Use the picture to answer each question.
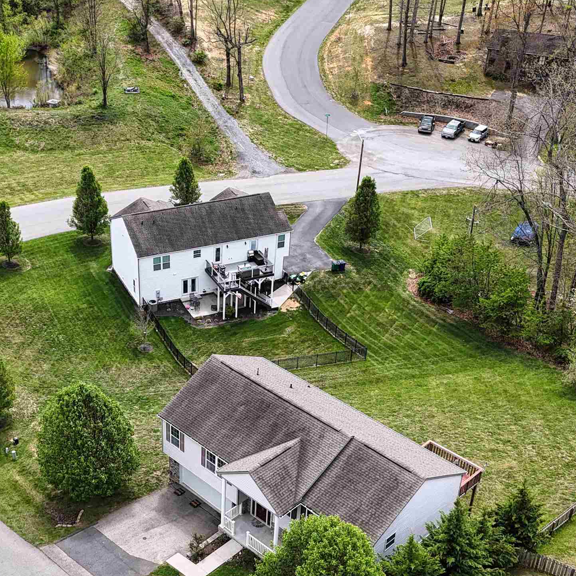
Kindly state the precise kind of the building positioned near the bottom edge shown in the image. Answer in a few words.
residential house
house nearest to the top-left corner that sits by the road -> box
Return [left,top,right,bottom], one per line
[108,186,292,315]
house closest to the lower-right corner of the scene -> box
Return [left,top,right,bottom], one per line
[158,353,483,575]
